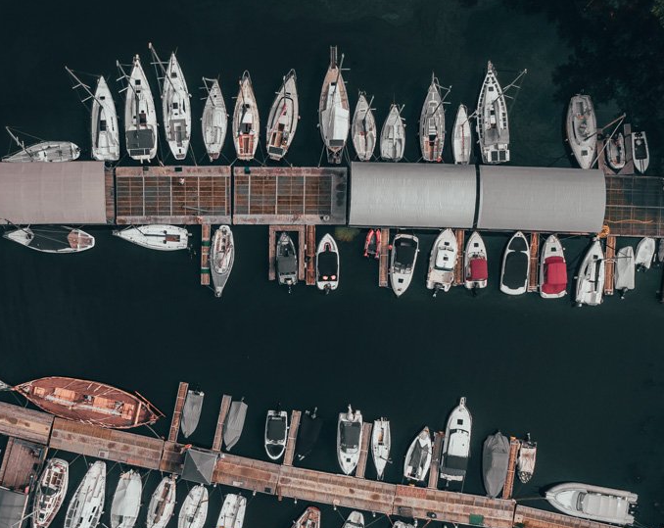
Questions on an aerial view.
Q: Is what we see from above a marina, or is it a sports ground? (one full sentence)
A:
It's a marina.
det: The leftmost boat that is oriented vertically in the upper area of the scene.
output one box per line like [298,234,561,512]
[64,64,126,171]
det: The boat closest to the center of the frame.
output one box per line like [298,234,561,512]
[316,234,339,297]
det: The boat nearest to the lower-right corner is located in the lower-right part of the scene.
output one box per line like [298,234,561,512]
[518,486,648,528]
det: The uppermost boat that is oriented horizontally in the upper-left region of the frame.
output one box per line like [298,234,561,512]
[0,127,84,161]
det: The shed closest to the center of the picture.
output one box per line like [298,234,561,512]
[348,161,476,232]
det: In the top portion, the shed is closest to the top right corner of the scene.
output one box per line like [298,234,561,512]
[472,165,607,236]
